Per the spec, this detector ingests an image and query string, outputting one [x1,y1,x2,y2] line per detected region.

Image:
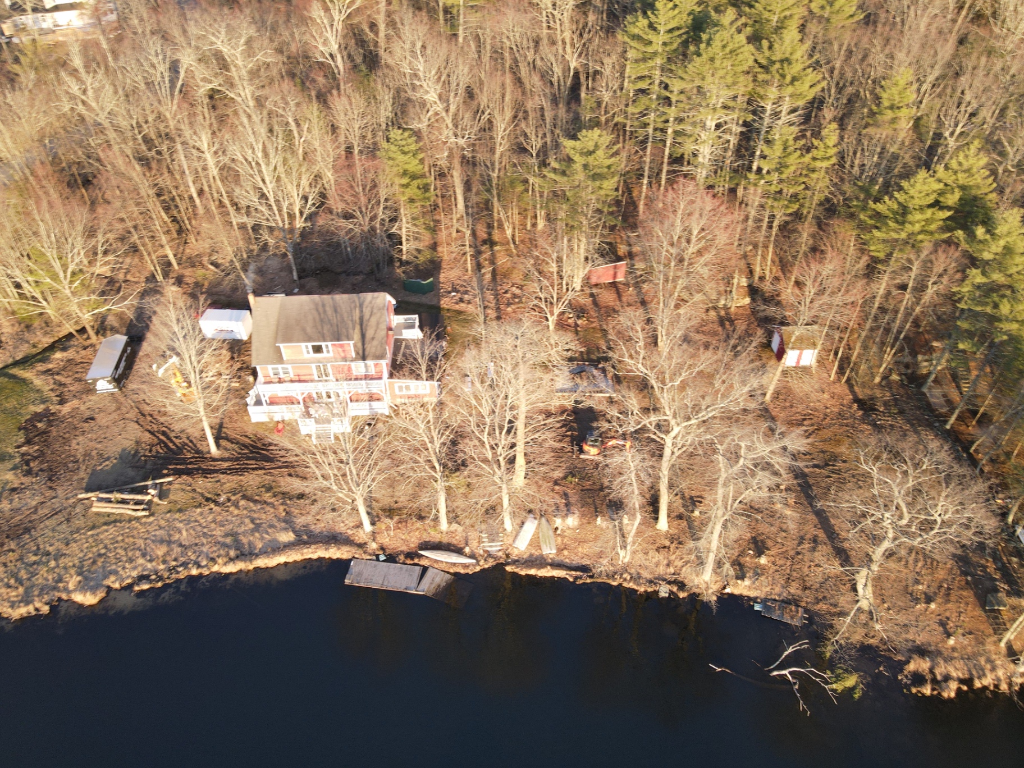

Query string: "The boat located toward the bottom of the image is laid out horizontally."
[418,550,476,565]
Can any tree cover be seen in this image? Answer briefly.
Yes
